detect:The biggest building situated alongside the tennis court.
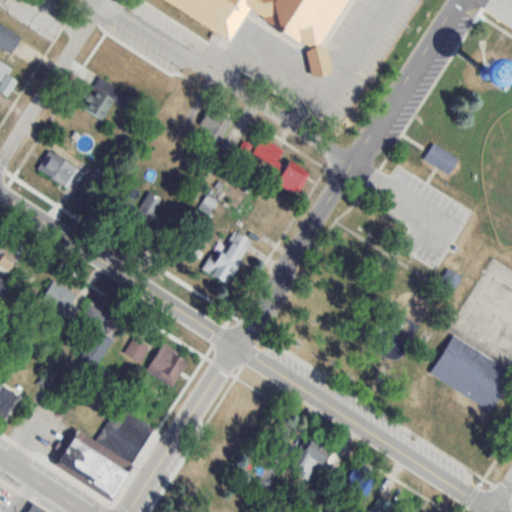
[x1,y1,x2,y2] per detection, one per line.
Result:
[430,334,506,406]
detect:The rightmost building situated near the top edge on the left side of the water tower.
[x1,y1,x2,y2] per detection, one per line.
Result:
[166,0,352,76]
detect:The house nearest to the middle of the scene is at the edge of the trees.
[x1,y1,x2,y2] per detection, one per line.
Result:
[201,231,250,282]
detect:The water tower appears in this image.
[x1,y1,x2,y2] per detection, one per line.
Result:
[478,58,512,86]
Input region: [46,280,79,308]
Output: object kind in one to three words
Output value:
house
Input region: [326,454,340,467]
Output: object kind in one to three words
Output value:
gazebo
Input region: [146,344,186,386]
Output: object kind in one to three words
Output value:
house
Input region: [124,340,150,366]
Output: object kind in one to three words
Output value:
building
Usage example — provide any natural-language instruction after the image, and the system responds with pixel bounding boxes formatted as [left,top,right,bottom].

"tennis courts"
[450,259,512,366]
